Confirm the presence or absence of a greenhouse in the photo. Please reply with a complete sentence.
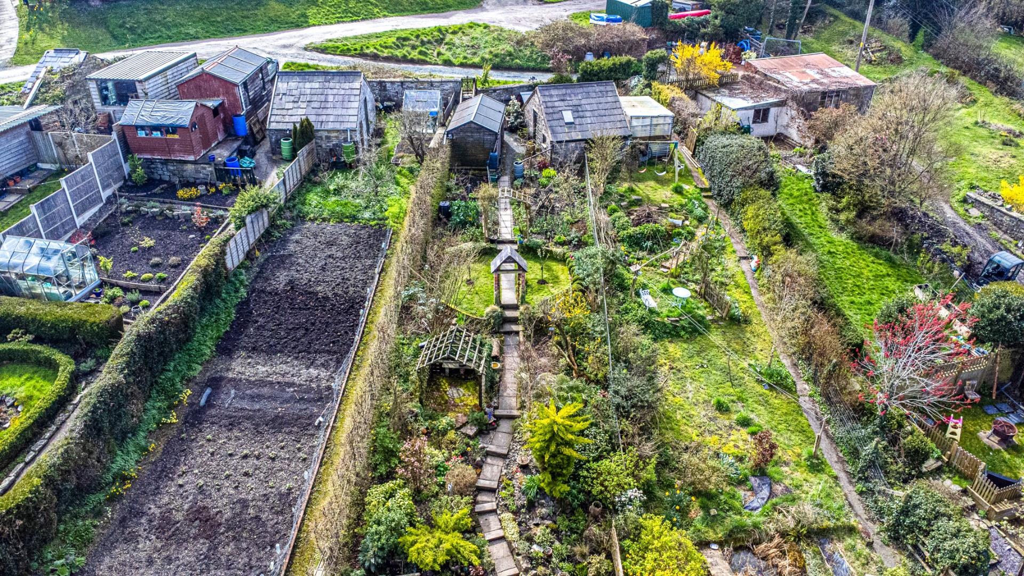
Yes, a greenhouse appears in the view.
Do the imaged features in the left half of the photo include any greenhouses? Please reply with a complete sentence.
Yes, looking in the left half of the photo, one can make out a greenhouse.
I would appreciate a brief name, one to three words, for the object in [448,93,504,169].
shed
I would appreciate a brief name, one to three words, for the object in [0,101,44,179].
shed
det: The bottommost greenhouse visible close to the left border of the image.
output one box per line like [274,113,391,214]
[0,233,102,310]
